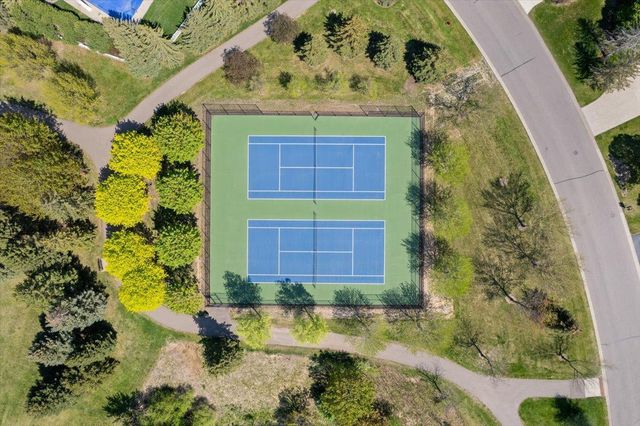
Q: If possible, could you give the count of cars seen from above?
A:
zero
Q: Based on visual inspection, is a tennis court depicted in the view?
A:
Yes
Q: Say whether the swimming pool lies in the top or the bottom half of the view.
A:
top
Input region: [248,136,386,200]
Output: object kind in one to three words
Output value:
tennis court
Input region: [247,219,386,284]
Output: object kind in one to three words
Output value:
tennis court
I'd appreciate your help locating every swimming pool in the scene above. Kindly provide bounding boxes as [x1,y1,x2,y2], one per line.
[64,0,152,25]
